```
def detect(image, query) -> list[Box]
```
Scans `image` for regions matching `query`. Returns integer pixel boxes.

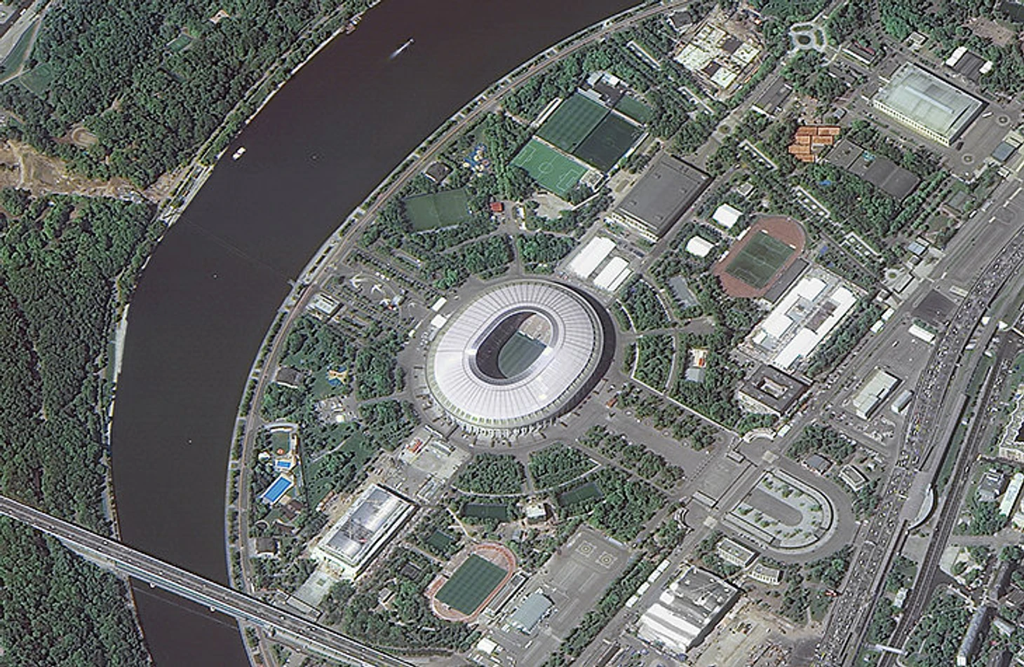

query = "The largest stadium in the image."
[421,278,607,443]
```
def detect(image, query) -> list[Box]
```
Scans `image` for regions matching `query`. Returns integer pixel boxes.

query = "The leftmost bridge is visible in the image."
[0,496,418,667]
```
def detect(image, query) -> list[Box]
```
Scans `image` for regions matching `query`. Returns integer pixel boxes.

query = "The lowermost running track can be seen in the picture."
[427,542,516,625]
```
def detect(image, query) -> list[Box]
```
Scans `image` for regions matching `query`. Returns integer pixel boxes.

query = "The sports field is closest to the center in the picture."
[482,333,544,379]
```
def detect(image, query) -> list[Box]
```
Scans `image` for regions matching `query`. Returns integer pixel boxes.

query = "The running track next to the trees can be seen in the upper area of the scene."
[716,217,807,299]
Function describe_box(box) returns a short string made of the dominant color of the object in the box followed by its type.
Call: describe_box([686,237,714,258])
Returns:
white tent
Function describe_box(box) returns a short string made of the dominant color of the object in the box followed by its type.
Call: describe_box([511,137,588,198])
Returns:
green soccer field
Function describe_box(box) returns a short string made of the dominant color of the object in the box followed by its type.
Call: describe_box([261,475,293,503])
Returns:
blue swimming pool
